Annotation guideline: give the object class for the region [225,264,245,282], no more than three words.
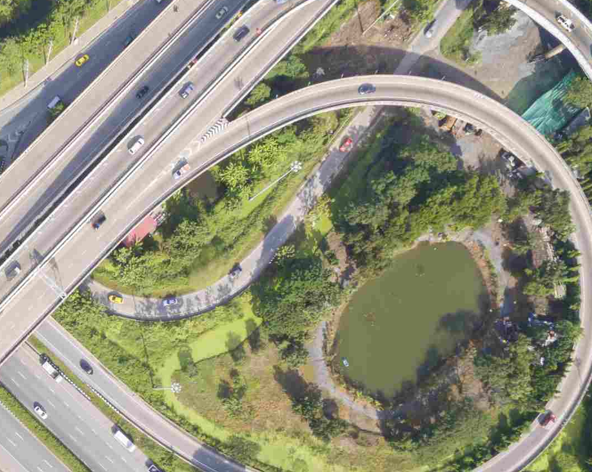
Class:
vehicle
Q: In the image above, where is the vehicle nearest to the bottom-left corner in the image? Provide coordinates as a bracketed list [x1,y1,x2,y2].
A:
[31,403,48,419]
